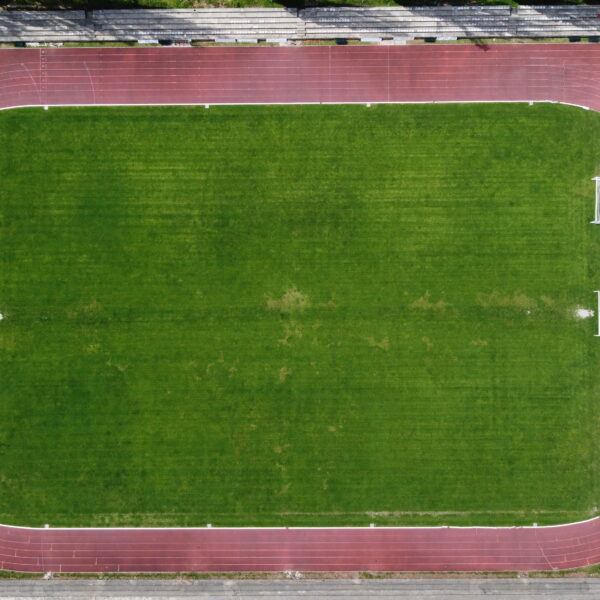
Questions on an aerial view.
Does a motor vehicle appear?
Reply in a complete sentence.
No, the photo shows no motor vehicle.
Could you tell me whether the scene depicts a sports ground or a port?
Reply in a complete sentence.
The area seen from above is a sports ground.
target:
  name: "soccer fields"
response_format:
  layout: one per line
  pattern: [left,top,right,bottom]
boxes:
[0,102,600,529]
